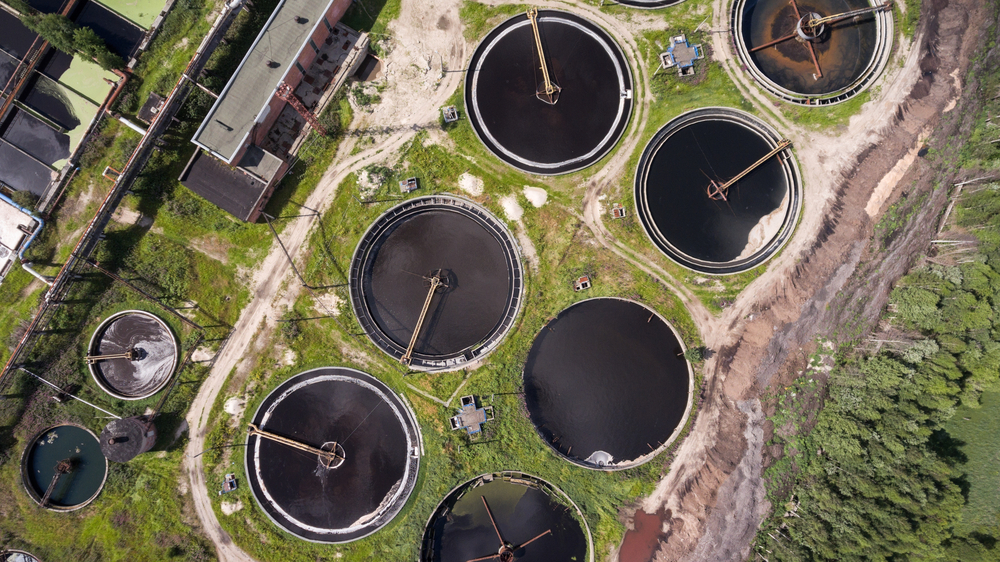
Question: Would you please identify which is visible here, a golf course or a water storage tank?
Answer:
water storage tank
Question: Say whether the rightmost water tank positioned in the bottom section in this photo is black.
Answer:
Yes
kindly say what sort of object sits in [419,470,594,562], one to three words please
water tank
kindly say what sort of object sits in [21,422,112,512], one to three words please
water tank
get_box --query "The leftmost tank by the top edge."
[465,8,633,177]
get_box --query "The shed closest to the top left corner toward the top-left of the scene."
[136,92,164,121]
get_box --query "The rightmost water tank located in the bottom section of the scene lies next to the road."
[522,297,694,470]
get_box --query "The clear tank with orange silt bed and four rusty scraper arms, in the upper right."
[728,0,894,108]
